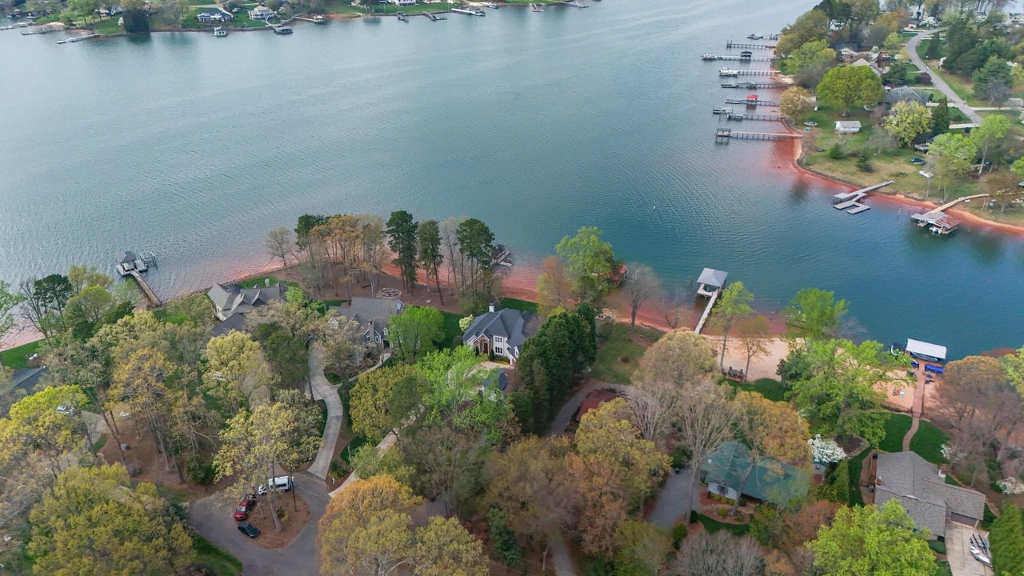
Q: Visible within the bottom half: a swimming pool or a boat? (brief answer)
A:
boat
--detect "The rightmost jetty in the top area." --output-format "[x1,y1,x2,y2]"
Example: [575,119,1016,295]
[907,193,986,239]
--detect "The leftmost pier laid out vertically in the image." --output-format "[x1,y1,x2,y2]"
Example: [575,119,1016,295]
[694,268,728,335]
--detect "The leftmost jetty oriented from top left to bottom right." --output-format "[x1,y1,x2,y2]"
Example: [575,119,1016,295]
[115,250,166,311]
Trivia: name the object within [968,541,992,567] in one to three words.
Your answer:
boat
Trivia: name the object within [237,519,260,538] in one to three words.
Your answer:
car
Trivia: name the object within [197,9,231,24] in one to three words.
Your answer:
house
